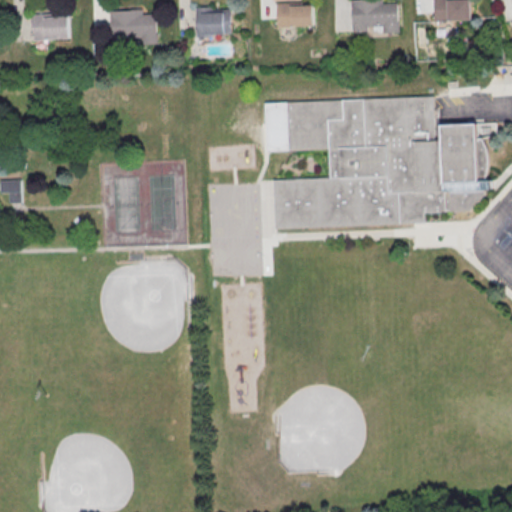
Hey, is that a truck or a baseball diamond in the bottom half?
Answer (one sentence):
It is a baseball diamond that can be seen in the bottom half.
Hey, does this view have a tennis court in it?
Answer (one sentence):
Yes, the image includes a tennis court.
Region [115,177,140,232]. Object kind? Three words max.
tennis court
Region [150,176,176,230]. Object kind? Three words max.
tennis court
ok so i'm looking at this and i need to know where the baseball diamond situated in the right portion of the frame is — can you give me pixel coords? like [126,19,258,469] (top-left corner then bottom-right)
[272,384,368,478]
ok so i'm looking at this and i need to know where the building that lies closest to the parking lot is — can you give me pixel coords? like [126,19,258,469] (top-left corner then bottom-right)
[264,96,490,230]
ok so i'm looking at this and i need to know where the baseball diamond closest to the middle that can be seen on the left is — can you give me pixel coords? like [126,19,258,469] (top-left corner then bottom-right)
[100,258,189,354]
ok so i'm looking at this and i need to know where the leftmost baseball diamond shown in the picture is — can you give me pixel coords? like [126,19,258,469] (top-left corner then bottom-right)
[43,432,136,512]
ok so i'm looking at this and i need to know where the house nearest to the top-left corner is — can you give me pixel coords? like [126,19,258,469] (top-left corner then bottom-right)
[30,13,72,45]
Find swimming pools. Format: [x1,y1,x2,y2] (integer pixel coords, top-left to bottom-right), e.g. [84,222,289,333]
[206,45,232,57]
